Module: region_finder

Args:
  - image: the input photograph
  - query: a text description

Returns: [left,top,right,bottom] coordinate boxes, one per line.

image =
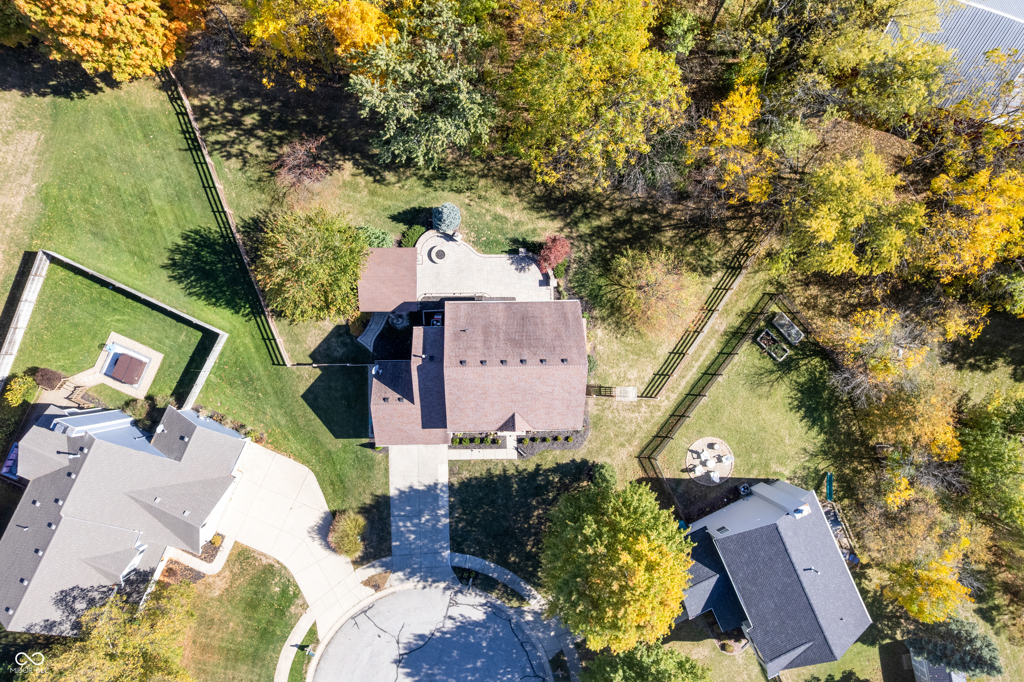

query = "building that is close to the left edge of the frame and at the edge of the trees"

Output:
[0,403,254,637]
